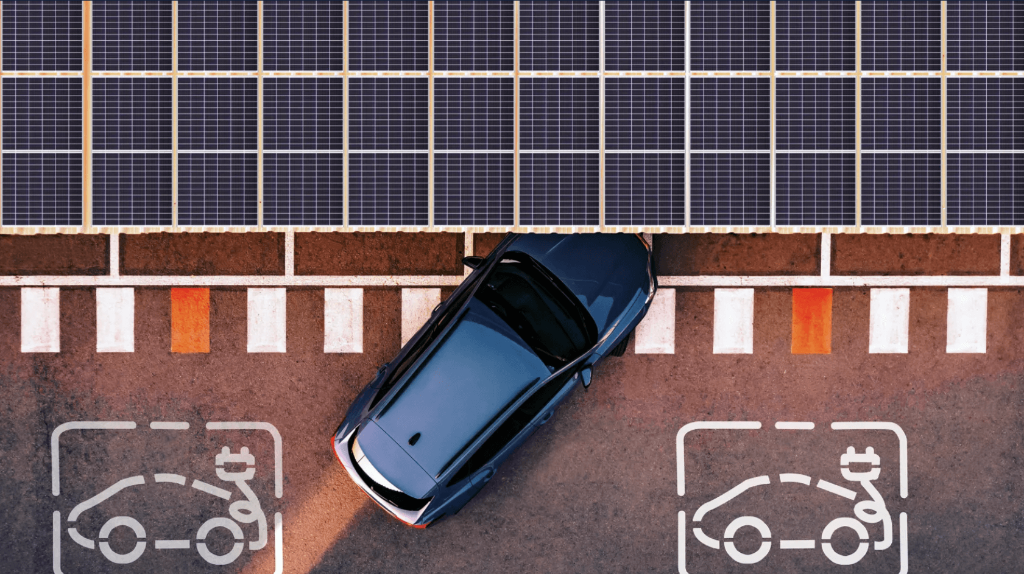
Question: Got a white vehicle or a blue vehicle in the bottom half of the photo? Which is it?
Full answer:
It is a blue vehicle that can be seen in the bottom half of the photo.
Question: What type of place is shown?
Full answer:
What you see here is a solar farm.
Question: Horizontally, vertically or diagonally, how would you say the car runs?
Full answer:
What the image shows is the car lying diagonally.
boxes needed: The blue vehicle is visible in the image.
[334,232,660,525]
